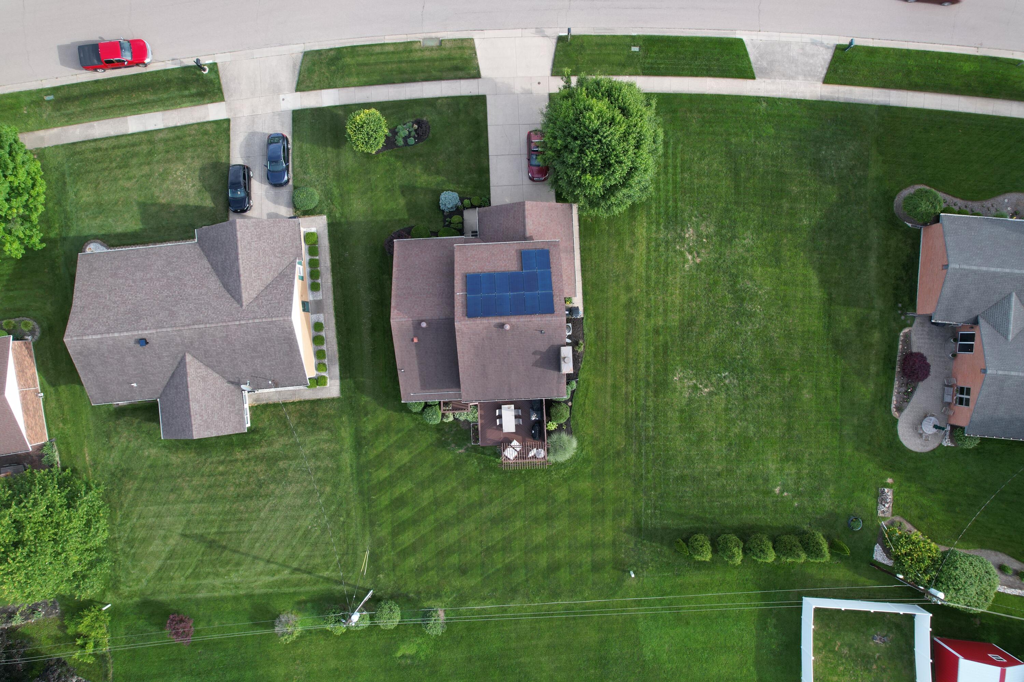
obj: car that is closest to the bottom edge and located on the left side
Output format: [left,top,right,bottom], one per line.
[224,163,255,214]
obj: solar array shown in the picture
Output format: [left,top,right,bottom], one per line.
[456,249,554,318]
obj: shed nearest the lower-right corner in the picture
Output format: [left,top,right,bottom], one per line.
[931,638,1022,682]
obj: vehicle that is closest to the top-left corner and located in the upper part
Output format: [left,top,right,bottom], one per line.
[79,35,153,74]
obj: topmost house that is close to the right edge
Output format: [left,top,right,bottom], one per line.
[916,211,1024,441]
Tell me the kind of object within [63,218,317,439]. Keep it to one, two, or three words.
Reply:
house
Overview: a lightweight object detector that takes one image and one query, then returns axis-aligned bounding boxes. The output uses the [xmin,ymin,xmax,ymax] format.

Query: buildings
[931,638,1022,682]
[63,218,317,439]
[916,211,1024,441]
[0,334,48,458]
[390,201,578,404]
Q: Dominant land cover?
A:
grass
